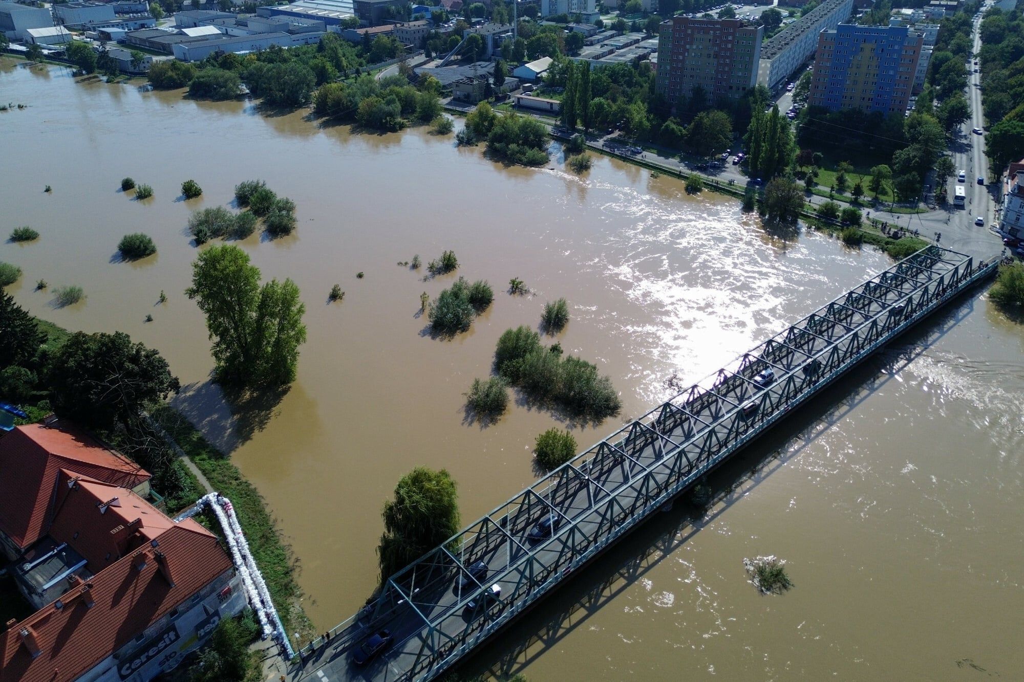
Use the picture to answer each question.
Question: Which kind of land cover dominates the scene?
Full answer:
For the most part, this view shows water.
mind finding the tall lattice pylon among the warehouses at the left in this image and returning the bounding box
[37,0,72,57]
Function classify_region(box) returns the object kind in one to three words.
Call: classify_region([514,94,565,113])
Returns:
shed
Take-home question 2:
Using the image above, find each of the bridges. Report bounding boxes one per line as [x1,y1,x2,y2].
[294,245,985,682]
